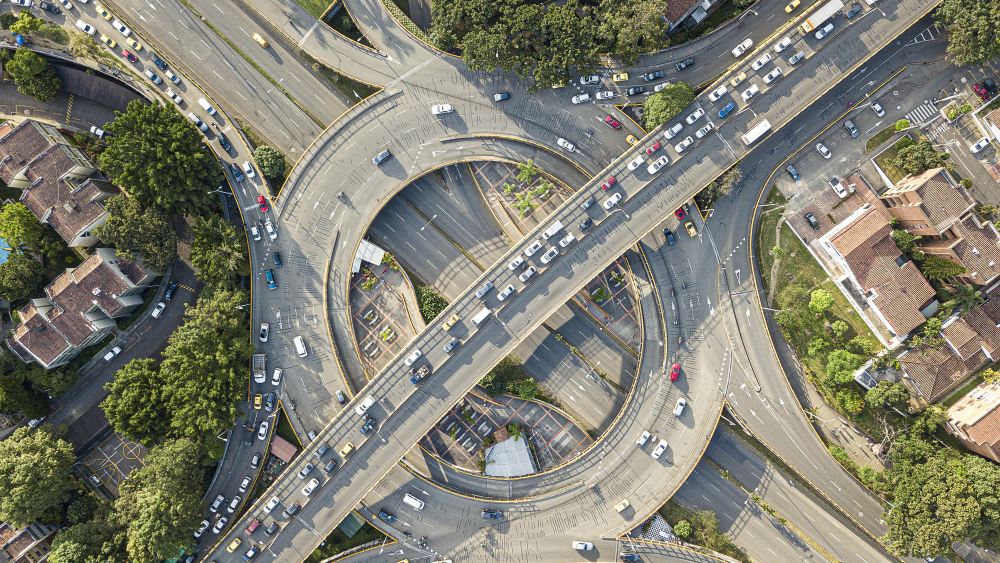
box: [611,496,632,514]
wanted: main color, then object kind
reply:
white vehicle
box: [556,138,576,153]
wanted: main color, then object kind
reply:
white car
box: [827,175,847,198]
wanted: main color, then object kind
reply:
white vehicle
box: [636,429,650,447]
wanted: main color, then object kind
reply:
white car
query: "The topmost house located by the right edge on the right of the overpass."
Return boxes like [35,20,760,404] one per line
[969,103,1000,154]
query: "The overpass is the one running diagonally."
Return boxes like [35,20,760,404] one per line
[201,0,941,563]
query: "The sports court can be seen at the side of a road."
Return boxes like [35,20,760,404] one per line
[82,401,175,499]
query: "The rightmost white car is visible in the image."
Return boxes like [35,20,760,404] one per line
[968,139,987,154]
